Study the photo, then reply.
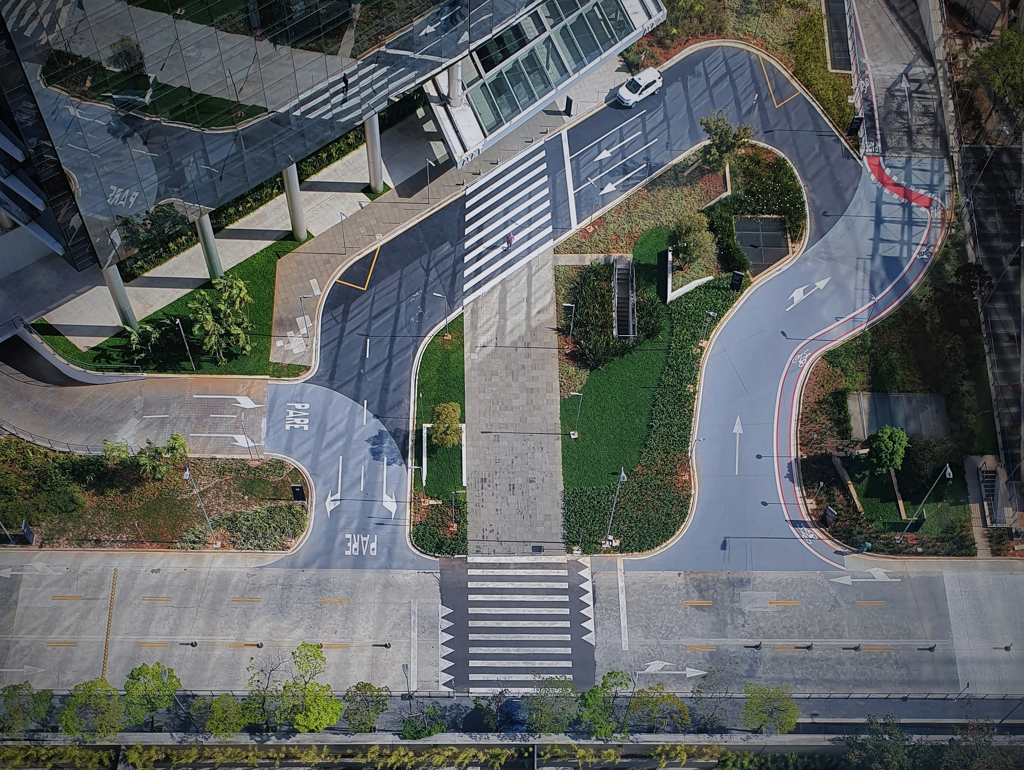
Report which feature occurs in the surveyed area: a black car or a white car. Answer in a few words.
white car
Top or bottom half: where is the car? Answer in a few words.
top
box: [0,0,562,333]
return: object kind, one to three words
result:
building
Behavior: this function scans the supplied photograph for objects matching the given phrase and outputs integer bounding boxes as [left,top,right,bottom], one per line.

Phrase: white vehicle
[617,66,666,108]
